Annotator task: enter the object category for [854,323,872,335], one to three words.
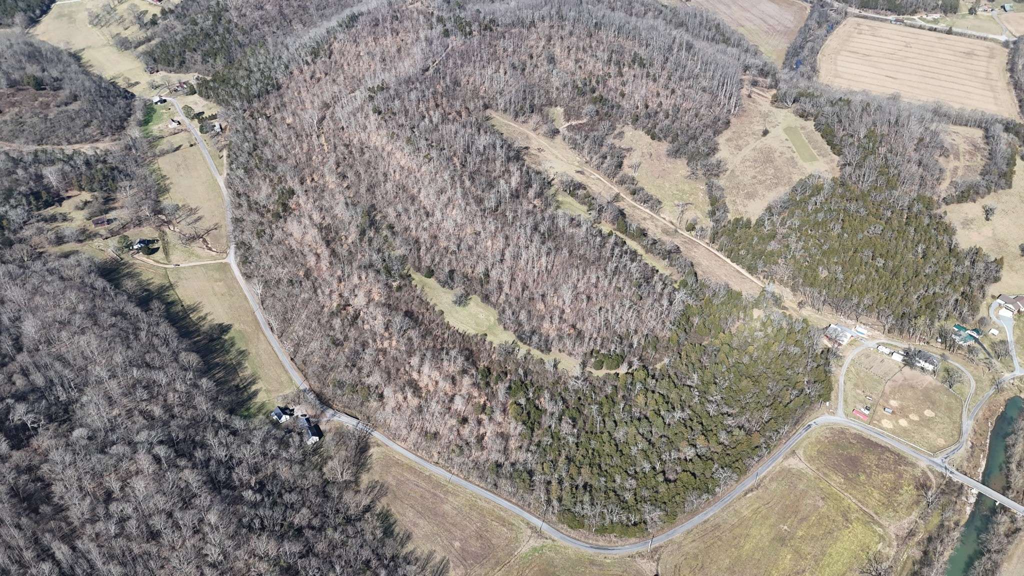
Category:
vehicle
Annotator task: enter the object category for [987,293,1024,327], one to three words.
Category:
house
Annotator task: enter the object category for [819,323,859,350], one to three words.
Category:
barn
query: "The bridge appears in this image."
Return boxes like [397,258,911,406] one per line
[944,465,1024,517]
